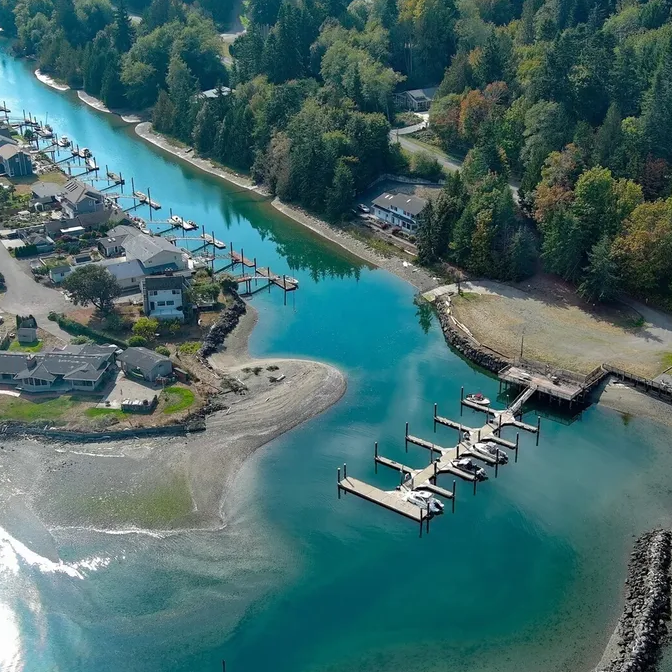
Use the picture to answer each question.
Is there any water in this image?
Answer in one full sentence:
Yes, some water is visible.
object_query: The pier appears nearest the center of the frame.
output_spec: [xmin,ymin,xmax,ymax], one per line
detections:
[235,267,299,294]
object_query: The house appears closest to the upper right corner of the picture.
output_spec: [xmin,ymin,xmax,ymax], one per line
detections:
[400,91,438,113]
